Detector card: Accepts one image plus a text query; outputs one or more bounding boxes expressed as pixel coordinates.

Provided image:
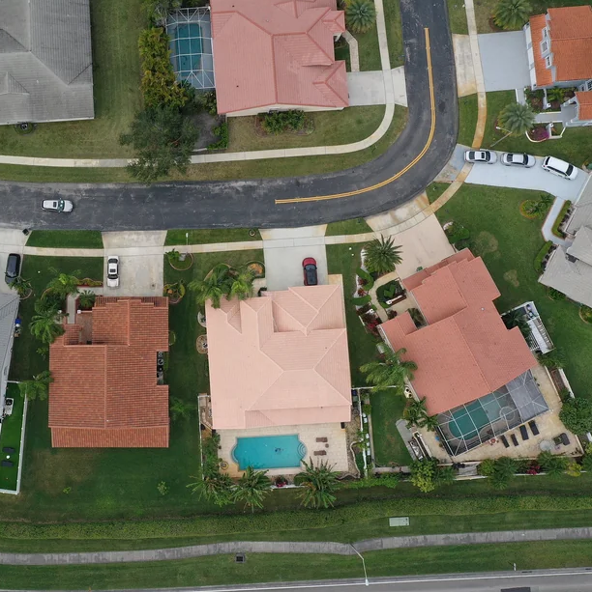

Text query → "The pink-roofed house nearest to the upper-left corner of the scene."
[211,0,349,115]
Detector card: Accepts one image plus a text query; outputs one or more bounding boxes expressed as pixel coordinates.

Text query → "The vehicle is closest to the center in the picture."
[303,257,317,285]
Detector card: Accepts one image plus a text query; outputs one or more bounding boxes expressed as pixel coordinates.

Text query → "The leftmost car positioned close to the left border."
[4,254,21,283]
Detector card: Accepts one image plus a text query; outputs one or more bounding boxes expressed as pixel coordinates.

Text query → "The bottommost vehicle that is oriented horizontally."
[41,198,74,213]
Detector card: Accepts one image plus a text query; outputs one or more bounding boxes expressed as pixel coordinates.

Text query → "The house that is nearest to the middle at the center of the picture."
[205,284,352,428]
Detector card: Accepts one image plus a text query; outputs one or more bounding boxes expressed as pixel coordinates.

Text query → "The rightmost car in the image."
[541,155,577,178]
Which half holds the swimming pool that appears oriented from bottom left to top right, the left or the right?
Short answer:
right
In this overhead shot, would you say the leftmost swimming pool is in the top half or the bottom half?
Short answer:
top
